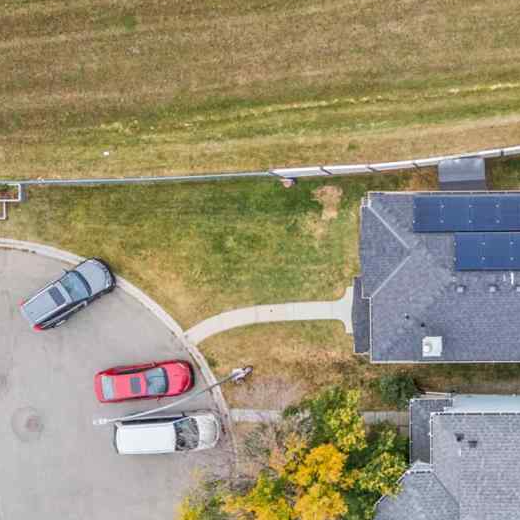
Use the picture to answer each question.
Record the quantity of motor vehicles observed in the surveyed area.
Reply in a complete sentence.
In total, 3 motor vehicles can be seen.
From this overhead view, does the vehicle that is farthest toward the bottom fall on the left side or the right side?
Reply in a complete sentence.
You can find the vehicle that is farthest toward the bottom on the left side of the picture.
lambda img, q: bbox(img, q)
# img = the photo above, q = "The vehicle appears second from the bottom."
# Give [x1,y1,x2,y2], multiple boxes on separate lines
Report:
[97,359,197,405]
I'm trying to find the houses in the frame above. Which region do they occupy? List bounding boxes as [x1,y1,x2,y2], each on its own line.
[368,393,520,520]
[350,191,520,361]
